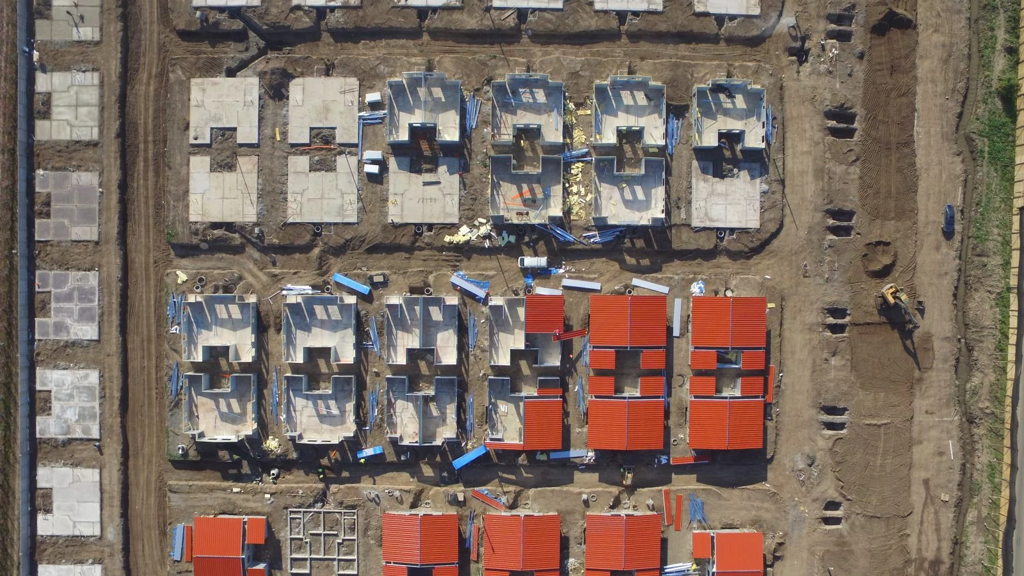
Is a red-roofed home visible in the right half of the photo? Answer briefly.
Yes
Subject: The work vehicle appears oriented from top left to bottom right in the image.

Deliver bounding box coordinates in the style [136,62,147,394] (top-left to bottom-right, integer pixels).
[873,285,920,333]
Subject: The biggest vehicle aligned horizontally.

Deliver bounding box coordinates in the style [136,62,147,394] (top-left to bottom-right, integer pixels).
[518,255,548,268]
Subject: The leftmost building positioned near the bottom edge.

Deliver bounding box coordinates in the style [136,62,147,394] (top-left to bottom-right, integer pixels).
[191,515,271,576]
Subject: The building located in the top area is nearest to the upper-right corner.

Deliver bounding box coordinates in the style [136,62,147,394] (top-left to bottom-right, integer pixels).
[690,78,765,151]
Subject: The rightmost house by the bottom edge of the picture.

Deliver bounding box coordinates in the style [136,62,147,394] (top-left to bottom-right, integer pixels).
[691,528,768,576]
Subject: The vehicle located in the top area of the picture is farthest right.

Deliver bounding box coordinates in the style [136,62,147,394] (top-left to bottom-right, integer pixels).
[938,205,955,233]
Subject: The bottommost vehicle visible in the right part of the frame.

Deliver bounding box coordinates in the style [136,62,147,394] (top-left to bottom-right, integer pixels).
[620,462,633,483]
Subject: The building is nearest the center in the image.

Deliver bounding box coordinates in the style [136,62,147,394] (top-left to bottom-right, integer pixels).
[491,295,564,366]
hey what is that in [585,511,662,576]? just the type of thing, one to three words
house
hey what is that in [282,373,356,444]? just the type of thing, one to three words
house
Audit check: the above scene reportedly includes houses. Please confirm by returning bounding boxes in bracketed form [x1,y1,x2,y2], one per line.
[590,295,667,368]
[690,78,765,151]
[593,156,665,226]
[491,295,564,366]
[691,295,769,368]
[484,511,561,576]
[487,374,564,449]
[491,154,561,224]
[691,528,768,576]
[387,72,458,145]
[382,510,459,576]
[282,373,356,444]
[191,515,271,576]
[181,372,258,443]
[492,73,562,146]
[687,375,765,450]
[585,511,662,576]
[593,75,665,148]
[588,375,665,449]
[385,297,456,365]
[282,296,356,364]
[181,295,257,364]
[385,373,457,445]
